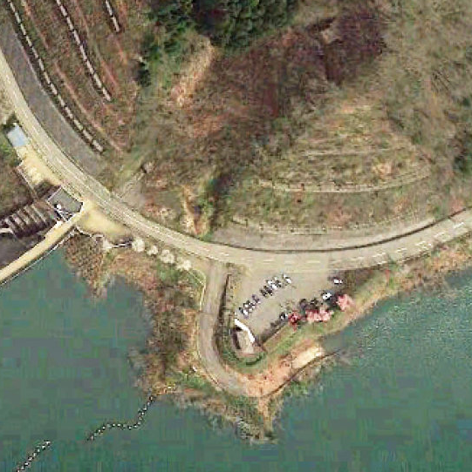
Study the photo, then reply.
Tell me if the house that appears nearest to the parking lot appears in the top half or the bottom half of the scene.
bottom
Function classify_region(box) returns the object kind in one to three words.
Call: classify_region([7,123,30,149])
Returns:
shed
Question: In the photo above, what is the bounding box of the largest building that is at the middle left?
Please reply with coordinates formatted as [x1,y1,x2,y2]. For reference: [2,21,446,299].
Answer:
[48,186,83,218]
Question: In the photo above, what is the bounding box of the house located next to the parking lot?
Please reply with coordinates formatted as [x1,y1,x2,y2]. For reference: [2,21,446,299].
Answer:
[234,317,256,354]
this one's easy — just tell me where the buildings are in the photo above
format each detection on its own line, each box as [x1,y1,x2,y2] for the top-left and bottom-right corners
[48,186,83,218]
[7,123,30,149]
[234,317,256,354]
